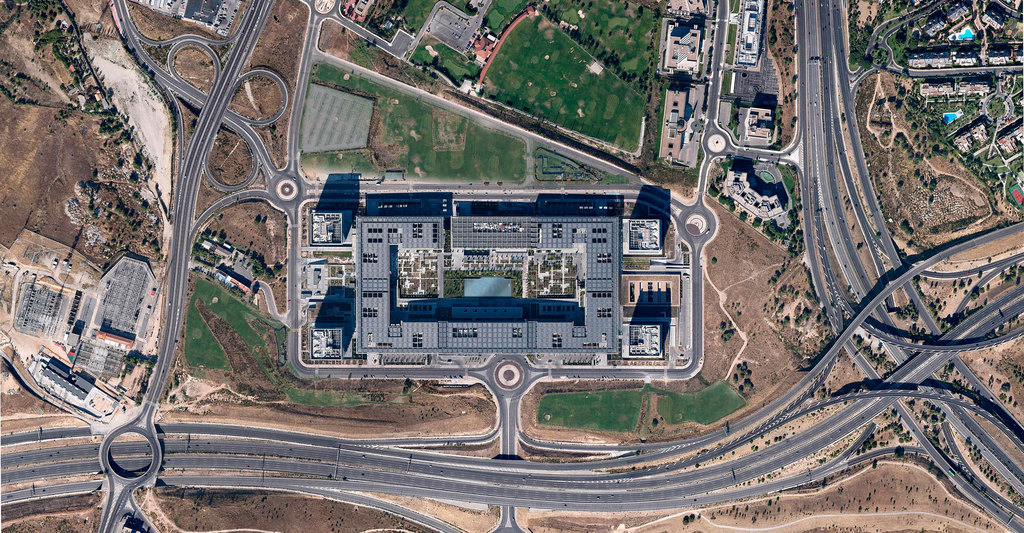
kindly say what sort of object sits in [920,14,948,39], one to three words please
house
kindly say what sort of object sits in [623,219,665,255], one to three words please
building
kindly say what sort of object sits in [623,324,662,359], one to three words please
building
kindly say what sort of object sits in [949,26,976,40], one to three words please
swimming pool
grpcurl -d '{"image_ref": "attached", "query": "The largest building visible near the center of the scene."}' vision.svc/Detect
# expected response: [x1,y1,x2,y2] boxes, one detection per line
[356,216,619,355]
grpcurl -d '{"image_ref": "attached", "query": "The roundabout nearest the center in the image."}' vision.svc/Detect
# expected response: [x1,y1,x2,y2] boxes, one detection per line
[484,355,533,400]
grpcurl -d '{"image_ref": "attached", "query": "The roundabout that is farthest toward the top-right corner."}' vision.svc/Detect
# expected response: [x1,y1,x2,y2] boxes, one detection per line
[980,90,1015,125]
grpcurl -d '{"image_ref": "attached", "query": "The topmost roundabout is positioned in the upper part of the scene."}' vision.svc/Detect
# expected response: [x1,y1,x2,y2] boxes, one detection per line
[304,0,345,24]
